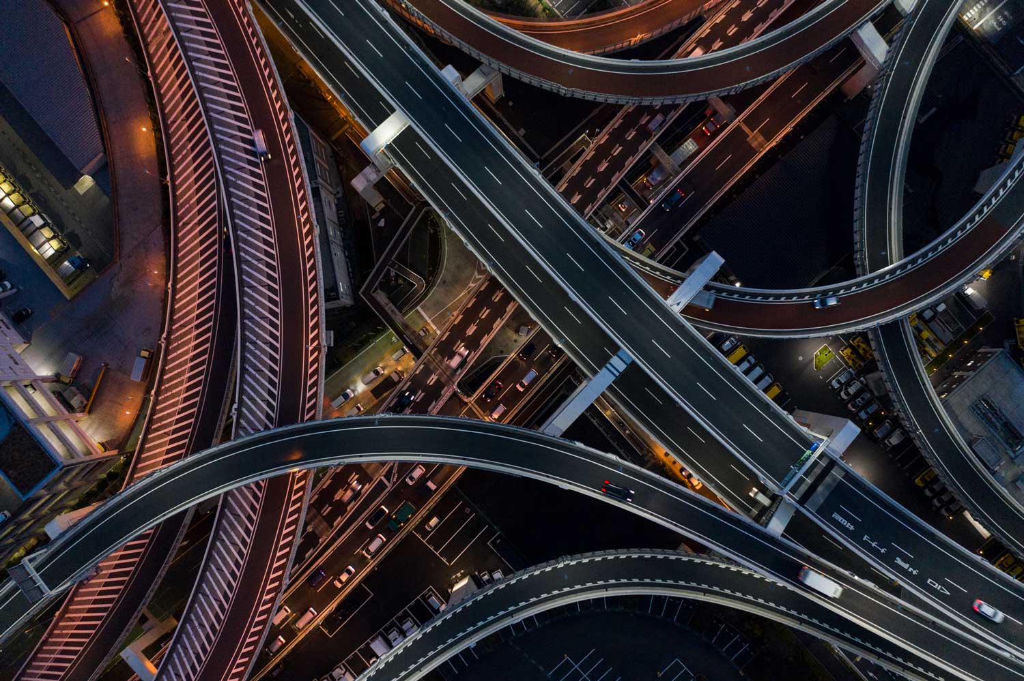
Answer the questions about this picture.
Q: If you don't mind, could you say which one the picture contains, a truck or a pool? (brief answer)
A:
truck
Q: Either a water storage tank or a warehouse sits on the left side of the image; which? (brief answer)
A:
warehouse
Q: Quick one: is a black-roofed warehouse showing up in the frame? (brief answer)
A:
Yes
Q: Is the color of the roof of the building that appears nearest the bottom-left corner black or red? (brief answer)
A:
black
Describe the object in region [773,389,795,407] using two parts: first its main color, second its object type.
black vehicle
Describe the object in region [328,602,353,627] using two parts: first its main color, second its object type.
black car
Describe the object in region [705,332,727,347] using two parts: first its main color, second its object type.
black car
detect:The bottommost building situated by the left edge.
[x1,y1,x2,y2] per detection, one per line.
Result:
[0,384,84,499]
